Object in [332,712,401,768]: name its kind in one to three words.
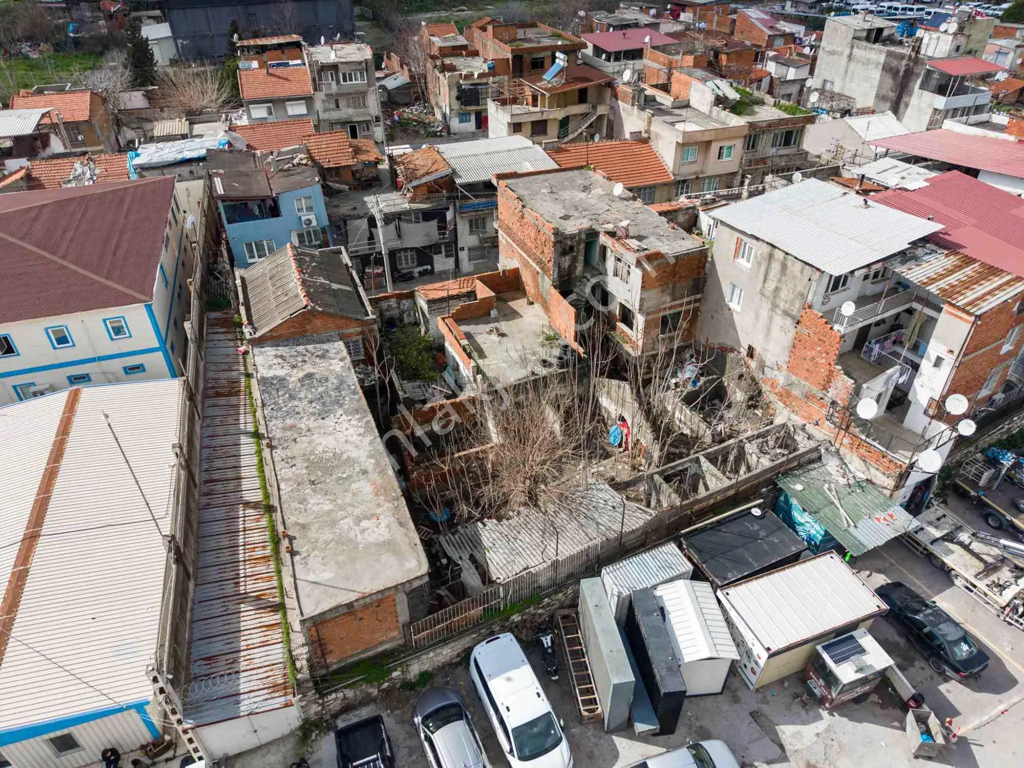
truck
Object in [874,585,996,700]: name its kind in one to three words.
car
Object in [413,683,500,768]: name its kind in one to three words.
car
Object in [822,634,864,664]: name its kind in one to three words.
solar panel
